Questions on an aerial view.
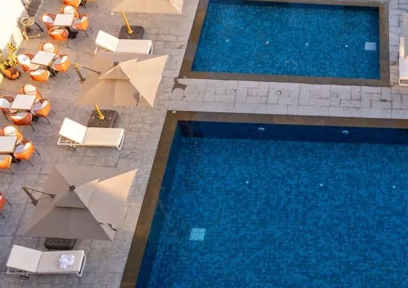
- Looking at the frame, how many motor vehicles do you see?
none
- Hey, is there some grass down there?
No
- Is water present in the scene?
Yes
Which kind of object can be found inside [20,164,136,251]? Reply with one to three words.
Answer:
umbrella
